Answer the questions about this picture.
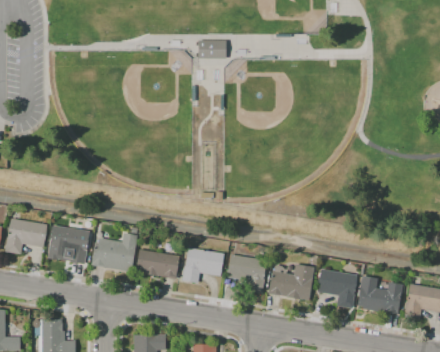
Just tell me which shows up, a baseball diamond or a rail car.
baseball diamond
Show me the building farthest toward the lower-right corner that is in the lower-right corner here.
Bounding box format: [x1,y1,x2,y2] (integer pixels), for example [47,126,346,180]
[406,284,440,316]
